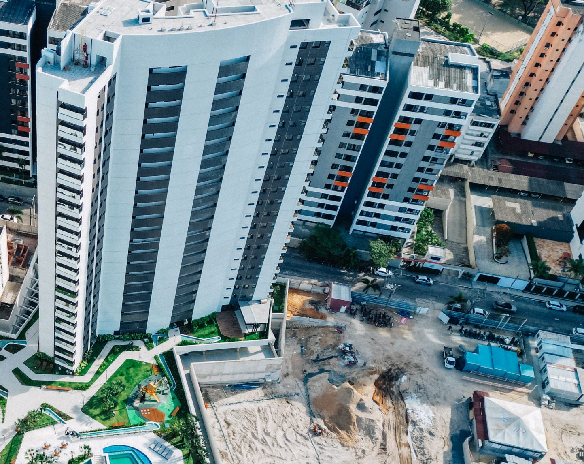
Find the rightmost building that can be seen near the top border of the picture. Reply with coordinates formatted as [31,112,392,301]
[493,0,584,152]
